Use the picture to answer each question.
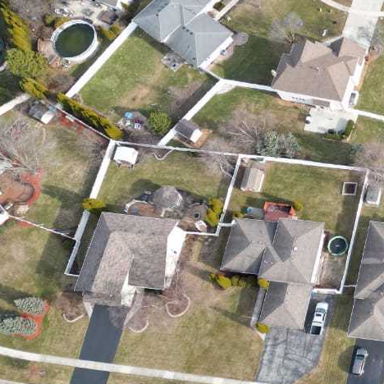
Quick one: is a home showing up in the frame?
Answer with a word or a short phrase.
Yes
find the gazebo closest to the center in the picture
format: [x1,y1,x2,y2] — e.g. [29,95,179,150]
[156,186,187,214]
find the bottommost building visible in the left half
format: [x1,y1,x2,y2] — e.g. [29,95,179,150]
[75,213,186,302]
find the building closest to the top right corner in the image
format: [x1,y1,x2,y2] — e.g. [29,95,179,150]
[273,42,369,107]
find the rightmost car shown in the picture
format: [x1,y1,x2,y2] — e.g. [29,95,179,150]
[350,348,366,378]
